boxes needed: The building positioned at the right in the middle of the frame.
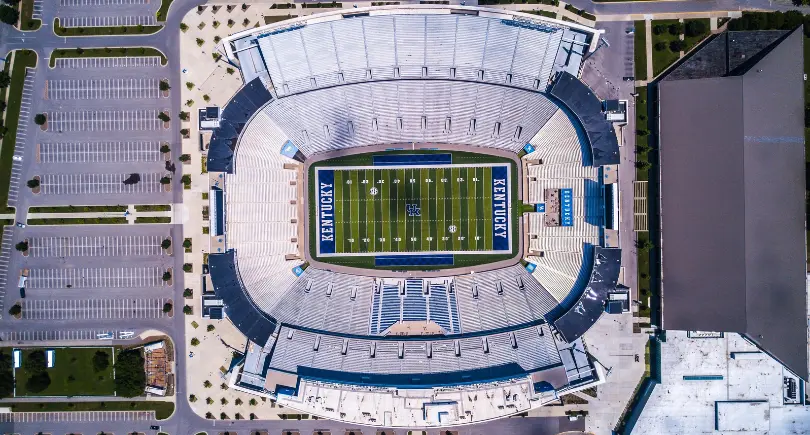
[653,25,808,382]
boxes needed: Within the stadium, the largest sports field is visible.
[309,149,520,269]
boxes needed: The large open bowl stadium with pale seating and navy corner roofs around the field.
[197,4,632,429]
